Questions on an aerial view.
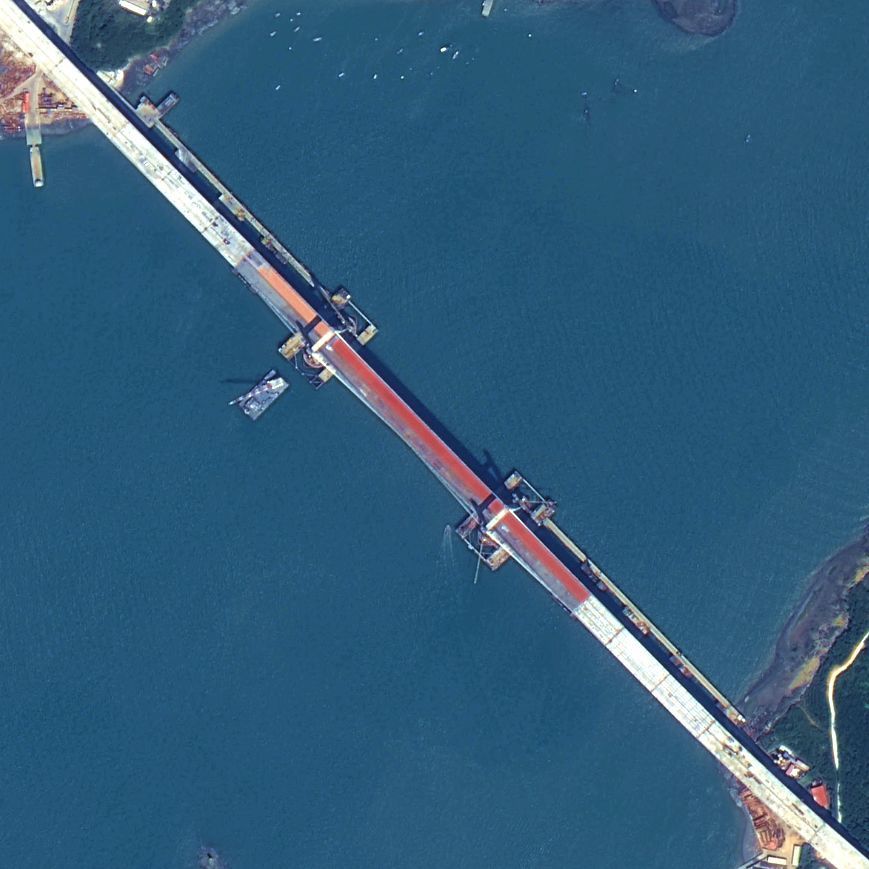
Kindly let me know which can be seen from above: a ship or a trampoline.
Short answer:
ship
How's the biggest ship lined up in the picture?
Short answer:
at an angle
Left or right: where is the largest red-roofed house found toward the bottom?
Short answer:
right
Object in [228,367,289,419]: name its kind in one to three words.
ship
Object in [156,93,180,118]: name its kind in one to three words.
ship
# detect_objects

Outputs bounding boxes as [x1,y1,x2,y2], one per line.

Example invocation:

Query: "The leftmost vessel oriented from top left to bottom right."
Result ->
[174,149,197,173]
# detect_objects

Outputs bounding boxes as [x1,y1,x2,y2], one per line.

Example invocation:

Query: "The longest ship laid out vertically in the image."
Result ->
[31,148,43,187]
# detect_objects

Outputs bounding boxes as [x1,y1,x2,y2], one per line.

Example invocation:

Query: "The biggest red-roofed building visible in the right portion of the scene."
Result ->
[810,785,830,810]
